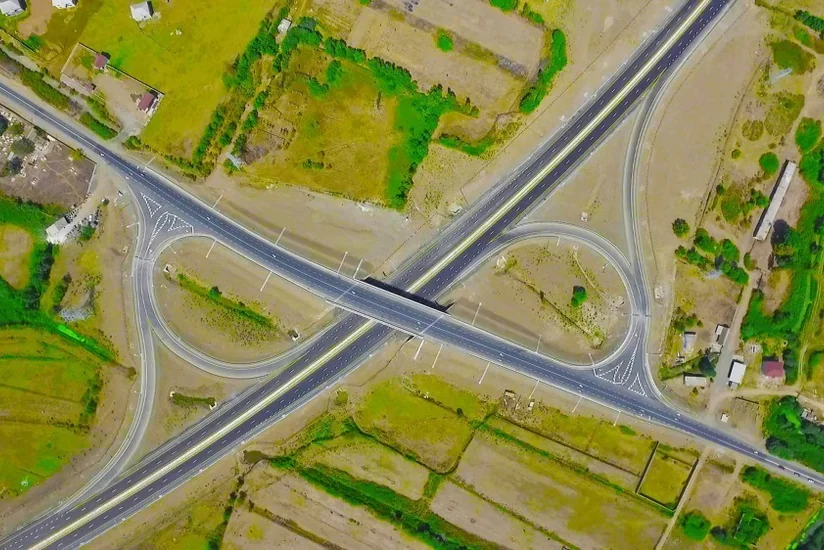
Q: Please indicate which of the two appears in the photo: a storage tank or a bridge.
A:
bridge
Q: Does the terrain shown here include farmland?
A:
Yes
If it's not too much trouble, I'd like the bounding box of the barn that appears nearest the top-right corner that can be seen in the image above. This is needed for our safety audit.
[755,160,793,242]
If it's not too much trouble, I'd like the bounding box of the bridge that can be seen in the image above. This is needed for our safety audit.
[326,279,450,339]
